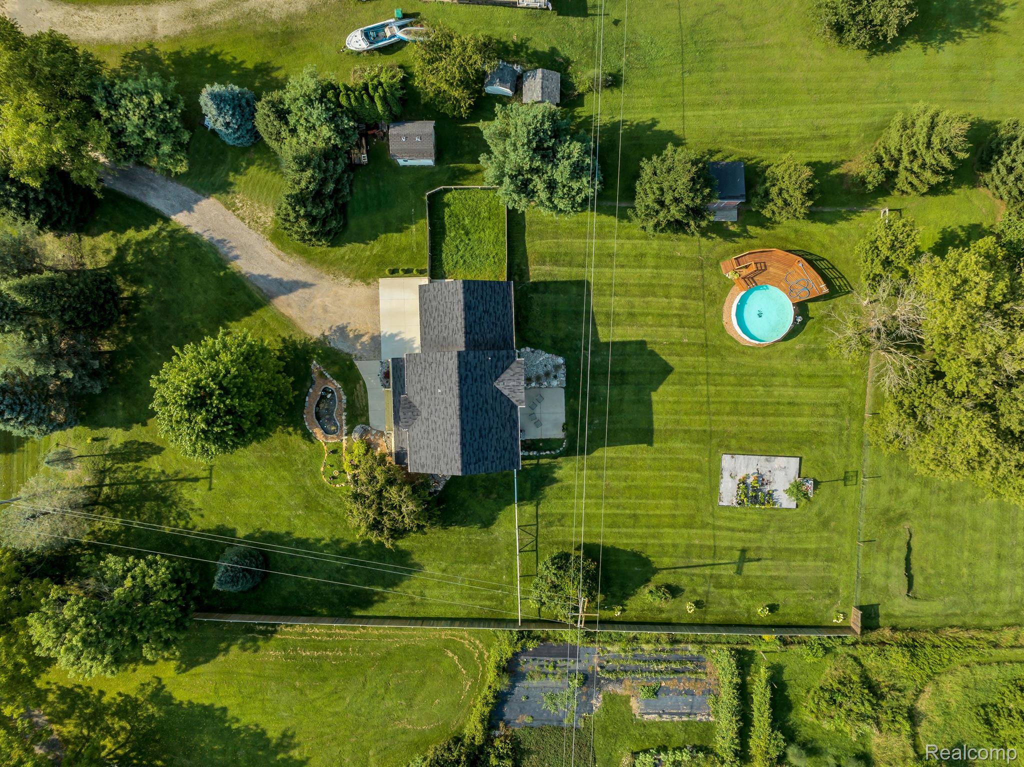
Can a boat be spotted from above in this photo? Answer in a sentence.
Yes, a boat is visible in the scene.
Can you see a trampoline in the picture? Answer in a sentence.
No, this view has no trampoline in it.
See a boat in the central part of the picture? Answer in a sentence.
No, the scene shows no boat in the central part of the picture.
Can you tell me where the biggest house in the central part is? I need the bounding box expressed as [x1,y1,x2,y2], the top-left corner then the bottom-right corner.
[382,278,525,476]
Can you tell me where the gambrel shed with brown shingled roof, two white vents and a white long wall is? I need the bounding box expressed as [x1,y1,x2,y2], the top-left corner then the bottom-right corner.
[387,123,436,167]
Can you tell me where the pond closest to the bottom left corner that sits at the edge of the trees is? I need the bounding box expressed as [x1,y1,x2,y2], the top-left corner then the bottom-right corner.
[301,359,350,444]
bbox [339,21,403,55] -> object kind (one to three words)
boat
